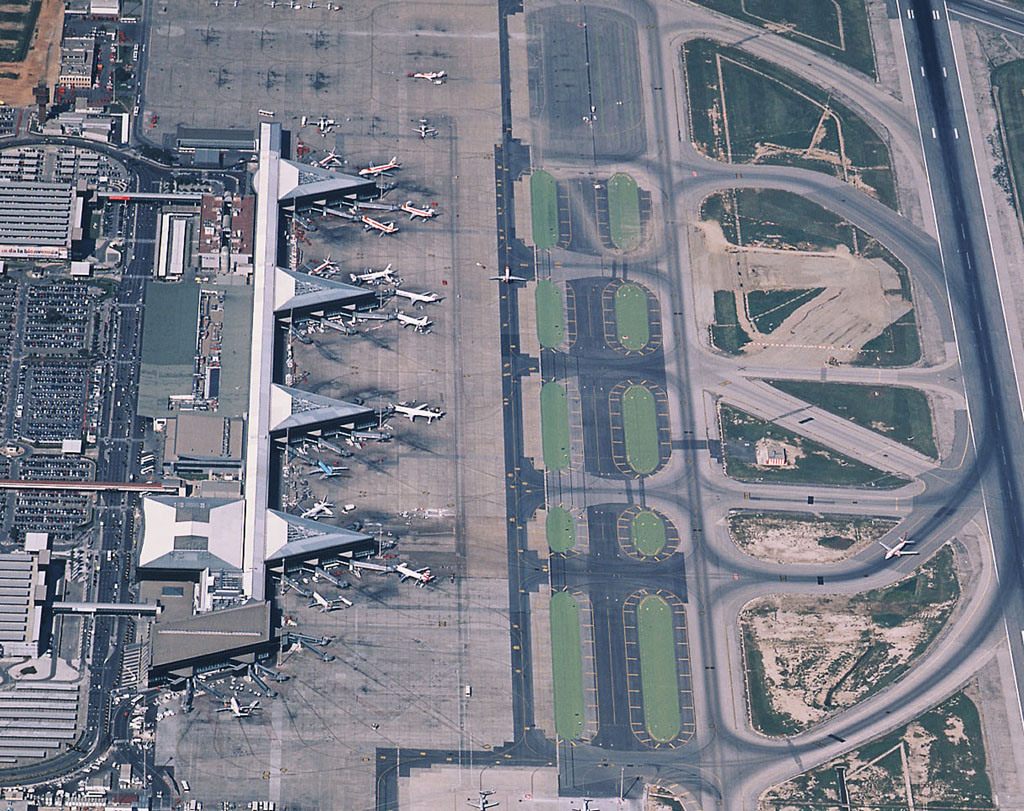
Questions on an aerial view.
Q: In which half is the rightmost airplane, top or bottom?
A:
bottom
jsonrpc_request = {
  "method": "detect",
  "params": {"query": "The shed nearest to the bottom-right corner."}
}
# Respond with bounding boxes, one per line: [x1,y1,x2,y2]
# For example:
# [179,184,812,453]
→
[760,446,784,464]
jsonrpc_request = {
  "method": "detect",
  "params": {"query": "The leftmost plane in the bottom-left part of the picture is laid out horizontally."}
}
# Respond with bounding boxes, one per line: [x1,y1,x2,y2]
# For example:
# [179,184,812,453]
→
[221,699,256,716]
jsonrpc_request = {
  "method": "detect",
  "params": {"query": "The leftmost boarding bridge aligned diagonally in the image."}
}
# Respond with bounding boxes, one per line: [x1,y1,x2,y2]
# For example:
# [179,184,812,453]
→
[193,676,229,700]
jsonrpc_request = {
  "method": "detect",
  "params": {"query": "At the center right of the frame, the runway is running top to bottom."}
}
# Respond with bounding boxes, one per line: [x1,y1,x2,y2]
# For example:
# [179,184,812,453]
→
[897,0,1024,731]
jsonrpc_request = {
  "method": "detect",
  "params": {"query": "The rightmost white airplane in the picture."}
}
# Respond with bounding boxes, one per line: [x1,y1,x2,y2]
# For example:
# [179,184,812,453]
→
[883,532,919,559]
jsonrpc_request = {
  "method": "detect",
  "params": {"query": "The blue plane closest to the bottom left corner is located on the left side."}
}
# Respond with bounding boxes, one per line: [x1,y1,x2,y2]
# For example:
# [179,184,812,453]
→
[316,462,344,476]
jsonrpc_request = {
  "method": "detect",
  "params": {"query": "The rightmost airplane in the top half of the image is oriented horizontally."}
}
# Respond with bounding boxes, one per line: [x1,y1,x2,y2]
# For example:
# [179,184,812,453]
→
[491,267,524,283]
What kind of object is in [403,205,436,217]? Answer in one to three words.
airplane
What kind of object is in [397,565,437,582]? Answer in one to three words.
airplane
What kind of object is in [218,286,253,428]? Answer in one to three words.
building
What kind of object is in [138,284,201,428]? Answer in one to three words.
building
